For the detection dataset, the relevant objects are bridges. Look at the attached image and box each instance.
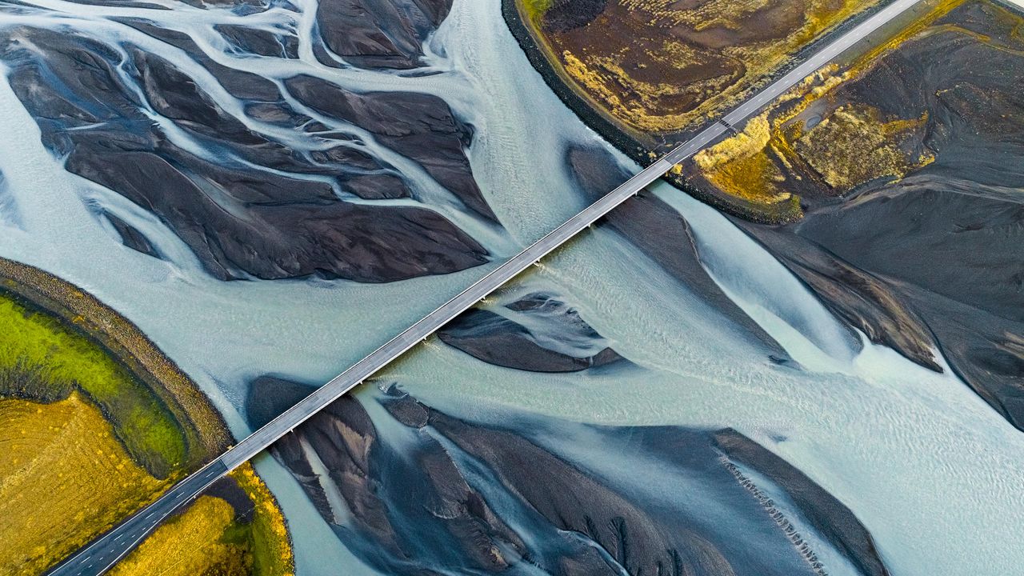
[219,157,673,472]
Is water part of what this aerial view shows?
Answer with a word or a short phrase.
Yes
